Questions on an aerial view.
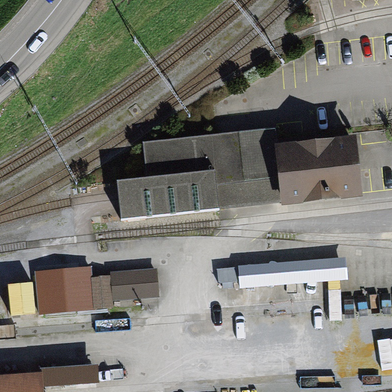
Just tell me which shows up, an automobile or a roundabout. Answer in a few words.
automobile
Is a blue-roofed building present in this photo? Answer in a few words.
No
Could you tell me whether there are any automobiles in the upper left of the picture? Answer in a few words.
Yes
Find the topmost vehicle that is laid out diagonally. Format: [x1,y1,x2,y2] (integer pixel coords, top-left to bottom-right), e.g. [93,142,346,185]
[28,32,48,53]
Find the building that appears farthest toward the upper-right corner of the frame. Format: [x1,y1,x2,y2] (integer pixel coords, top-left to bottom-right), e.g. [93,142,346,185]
[276,134,362,205]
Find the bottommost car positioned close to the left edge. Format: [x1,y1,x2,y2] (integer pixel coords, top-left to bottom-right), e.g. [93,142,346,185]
[0,66,20,87]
